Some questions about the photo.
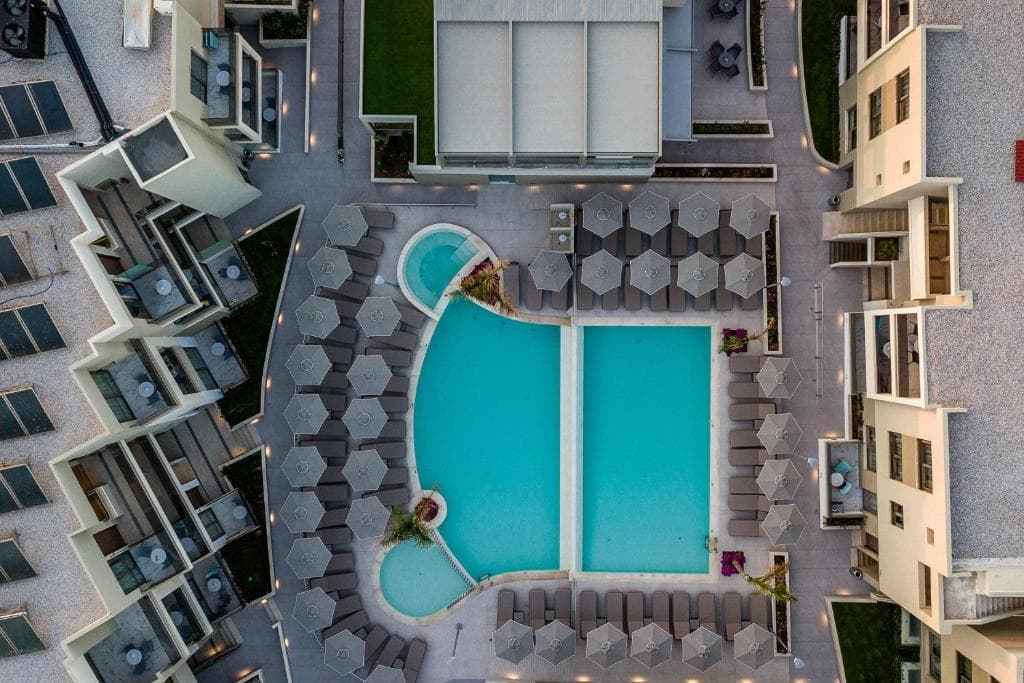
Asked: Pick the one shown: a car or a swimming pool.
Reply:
swimming pool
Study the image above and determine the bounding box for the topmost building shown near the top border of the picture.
[363,0,664,184]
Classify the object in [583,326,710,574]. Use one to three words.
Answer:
swimming pool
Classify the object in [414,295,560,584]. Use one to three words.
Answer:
swimming pool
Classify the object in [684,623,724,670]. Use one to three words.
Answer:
umbrella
